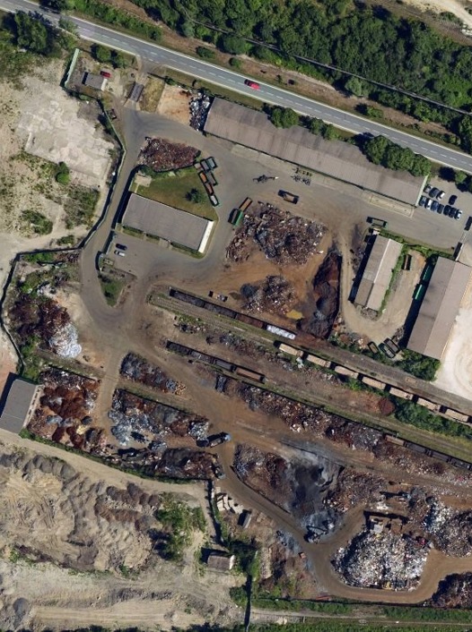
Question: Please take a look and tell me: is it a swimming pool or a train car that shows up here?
train car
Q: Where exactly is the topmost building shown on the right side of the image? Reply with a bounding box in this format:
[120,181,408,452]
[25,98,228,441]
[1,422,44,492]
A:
[204,98,429,207]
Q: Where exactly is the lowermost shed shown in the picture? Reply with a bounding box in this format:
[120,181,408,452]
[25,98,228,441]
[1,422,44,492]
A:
[208,552,233,569]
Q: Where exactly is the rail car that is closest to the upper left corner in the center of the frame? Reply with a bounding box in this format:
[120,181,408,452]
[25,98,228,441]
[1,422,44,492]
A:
[168,287,206,308]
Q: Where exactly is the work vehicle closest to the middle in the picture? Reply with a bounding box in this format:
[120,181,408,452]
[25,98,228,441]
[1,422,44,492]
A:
[211,291,231,303]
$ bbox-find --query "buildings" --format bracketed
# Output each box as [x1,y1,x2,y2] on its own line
[85,73,110,91]
[121,193,219,253]
[353,235,405,311]
[407,257,472,359]
[0,377,43,435]
[204,98,429,207]
[208,552,233,569]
